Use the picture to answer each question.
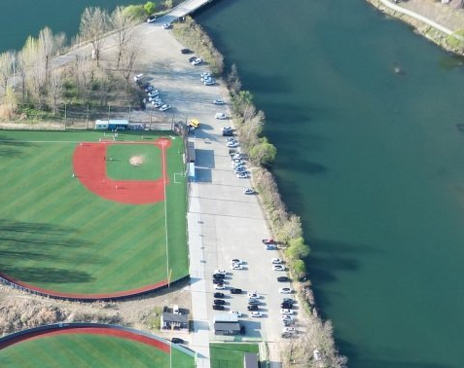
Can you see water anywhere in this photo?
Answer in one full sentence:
Yes, water shows up in the scene.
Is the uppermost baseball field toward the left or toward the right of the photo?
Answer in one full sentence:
The uppermost baseball field sits on the left side.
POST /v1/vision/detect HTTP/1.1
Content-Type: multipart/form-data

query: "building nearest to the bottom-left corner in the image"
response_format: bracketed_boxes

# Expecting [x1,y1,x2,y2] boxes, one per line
[164,309,189,332]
